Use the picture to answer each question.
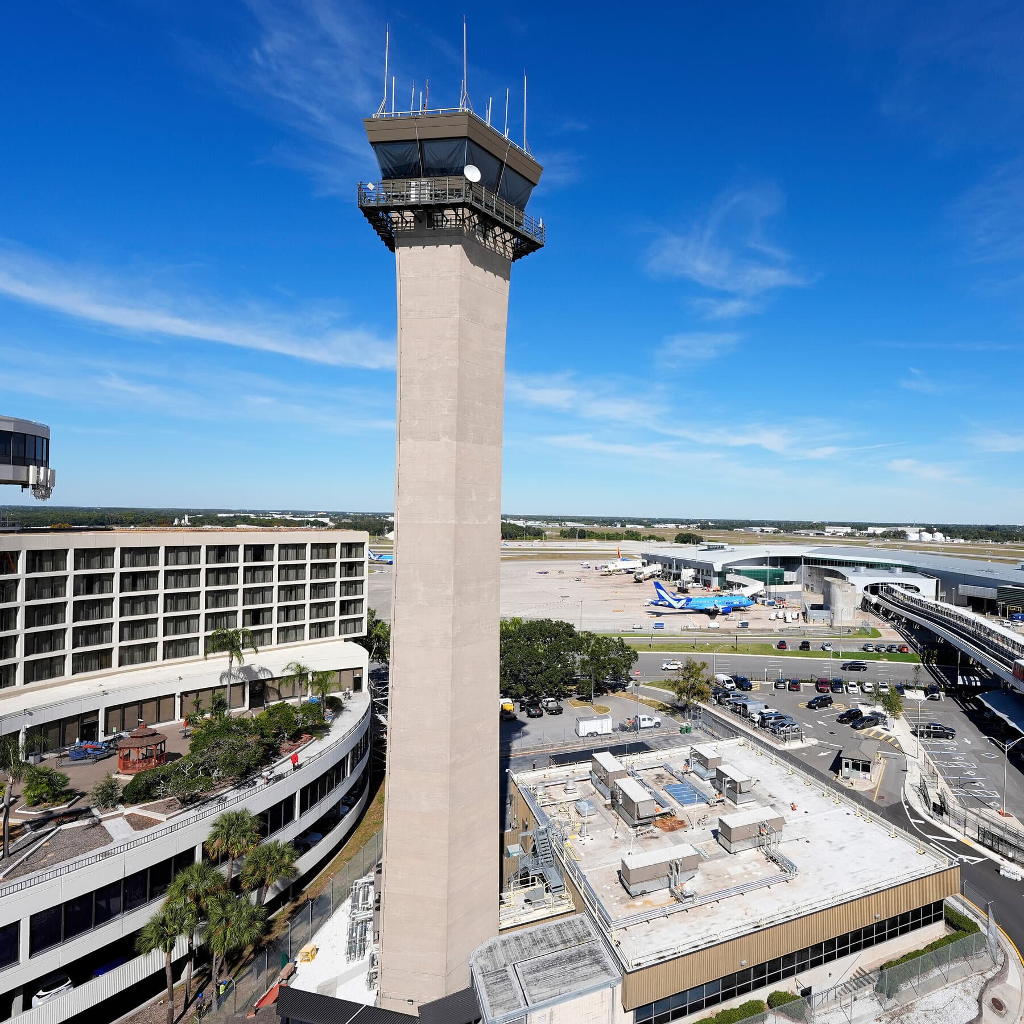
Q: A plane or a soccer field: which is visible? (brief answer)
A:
plane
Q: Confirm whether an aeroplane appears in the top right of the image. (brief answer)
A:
No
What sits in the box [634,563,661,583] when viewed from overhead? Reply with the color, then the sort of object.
white jet bridge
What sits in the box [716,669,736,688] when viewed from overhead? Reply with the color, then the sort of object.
white vehicle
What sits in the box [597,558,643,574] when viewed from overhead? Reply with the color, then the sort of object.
white jet bridge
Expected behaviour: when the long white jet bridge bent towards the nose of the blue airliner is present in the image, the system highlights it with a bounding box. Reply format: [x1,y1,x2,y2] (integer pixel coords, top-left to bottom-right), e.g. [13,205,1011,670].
[741,577,767,601]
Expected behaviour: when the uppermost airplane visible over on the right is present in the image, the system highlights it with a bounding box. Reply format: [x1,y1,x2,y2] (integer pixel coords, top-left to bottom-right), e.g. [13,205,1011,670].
[617,548,641,560]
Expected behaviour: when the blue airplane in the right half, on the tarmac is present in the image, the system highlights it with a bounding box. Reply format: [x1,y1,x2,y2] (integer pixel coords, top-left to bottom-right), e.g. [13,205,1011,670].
[645,579,756,614]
